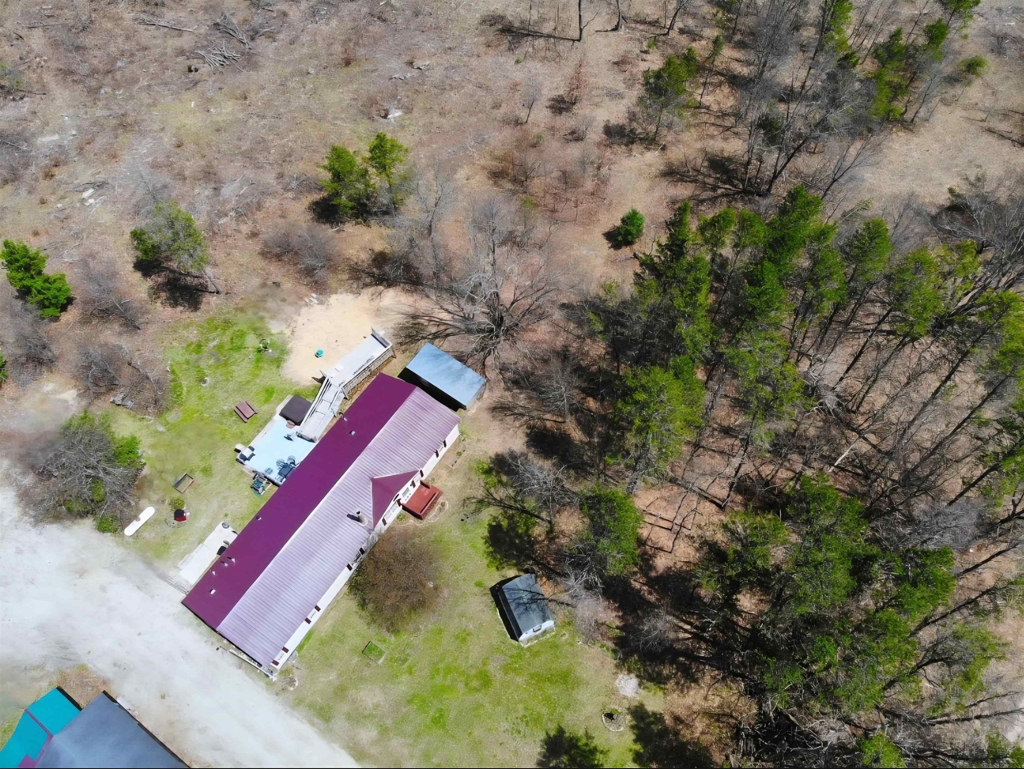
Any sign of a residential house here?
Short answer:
Yes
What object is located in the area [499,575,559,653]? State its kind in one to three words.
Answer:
shed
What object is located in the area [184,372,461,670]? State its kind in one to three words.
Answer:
house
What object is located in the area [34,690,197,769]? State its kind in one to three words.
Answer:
barn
